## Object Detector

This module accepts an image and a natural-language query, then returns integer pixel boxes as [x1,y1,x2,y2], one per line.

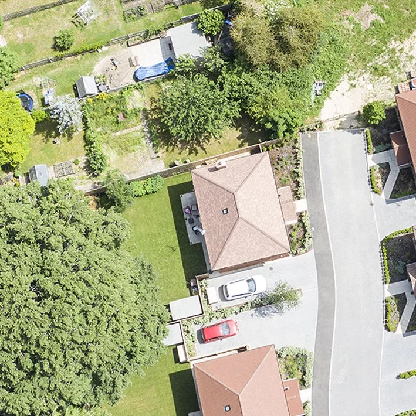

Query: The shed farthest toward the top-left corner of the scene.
[77,76,101,99]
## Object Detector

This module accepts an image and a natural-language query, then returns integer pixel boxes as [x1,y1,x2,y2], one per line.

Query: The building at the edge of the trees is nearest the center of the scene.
[191,151,299,270]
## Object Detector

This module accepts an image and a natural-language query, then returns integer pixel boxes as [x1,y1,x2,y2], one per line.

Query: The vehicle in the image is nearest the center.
[221,274,266,301]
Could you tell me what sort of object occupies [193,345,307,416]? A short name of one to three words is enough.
house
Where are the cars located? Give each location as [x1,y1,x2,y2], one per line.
[221,274,266,301]
[201,319,240,344]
